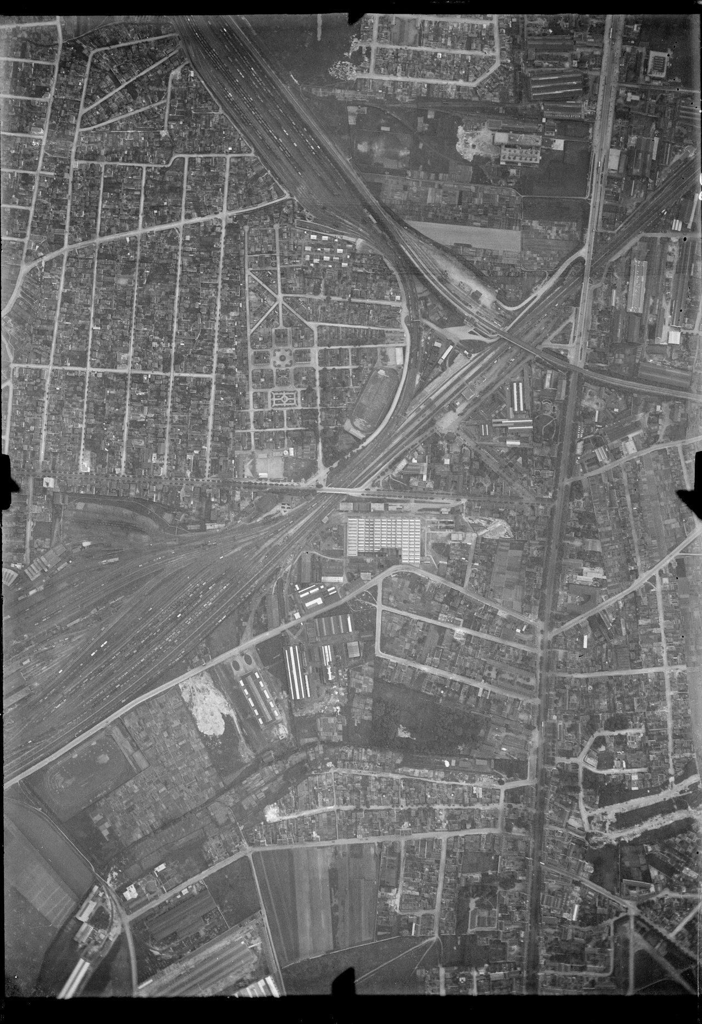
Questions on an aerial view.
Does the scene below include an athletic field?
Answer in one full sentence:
Yes, an athletic field appears in the view.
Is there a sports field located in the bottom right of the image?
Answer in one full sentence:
No, there's no sports field to be seen in the bottom right of the image.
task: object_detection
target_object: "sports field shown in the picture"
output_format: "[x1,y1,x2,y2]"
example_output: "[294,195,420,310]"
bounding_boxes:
[352,367,400,432]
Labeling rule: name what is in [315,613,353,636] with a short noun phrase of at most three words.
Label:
shed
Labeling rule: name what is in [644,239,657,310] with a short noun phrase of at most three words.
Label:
shed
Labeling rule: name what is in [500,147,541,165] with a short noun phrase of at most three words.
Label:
building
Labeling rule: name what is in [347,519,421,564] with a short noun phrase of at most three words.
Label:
building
